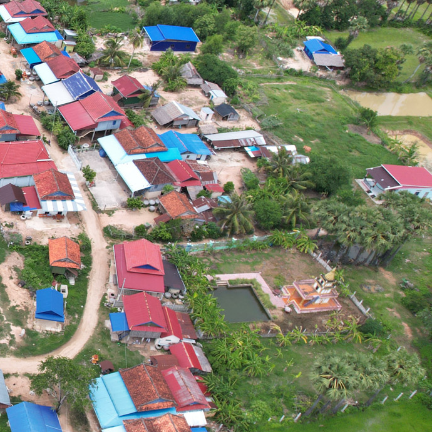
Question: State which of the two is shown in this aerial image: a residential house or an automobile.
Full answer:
I can see a residential house in this picture.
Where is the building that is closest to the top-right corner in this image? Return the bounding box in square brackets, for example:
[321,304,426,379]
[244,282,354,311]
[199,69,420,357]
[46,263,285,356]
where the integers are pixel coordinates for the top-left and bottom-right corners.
[297,36,344,76]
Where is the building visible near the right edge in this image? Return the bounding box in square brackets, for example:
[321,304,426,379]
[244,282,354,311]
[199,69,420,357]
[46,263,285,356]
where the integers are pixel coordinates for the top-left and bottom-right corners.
[358,164,432,203]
